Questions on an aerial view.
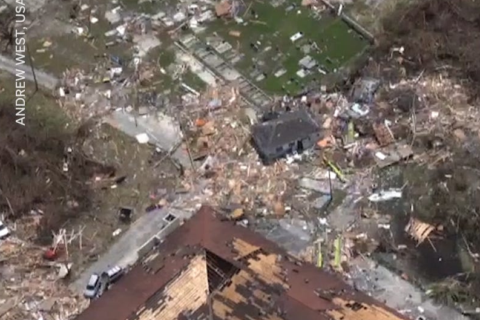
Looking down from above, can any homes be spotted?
Yes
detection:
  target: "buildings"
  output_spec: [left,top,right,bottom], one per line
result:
[249,106,323,161]
[75,205,415,320]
